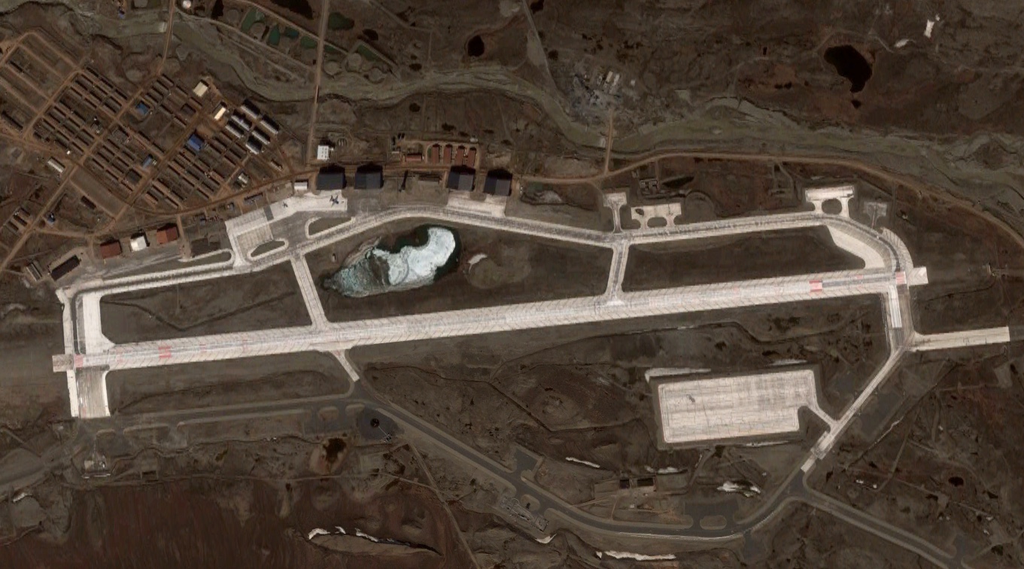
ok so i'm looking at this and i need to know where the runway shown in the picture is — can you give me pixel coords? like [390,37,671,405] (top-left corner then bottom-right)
[72,264,911,374]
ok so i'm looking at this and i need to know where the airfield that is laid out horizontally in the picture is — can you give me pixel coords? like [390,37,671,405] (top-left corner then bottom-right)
[53,185,1010,569]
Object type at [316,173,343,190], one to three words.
hangar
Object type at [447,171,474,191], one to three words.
hangar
